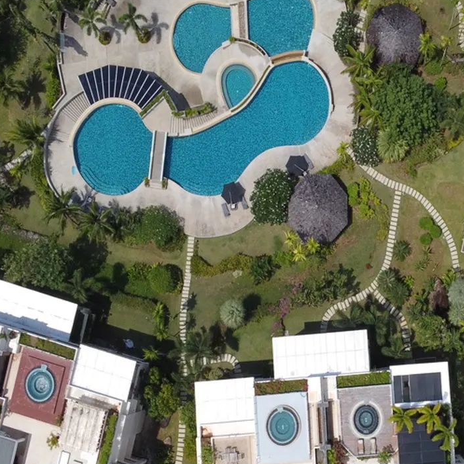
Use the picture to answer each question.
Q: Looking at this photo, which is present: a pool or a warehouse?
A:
pool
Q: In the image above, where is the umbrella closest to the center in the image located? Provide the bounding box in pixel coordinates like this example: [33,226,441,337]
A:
[222,183,245,207]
